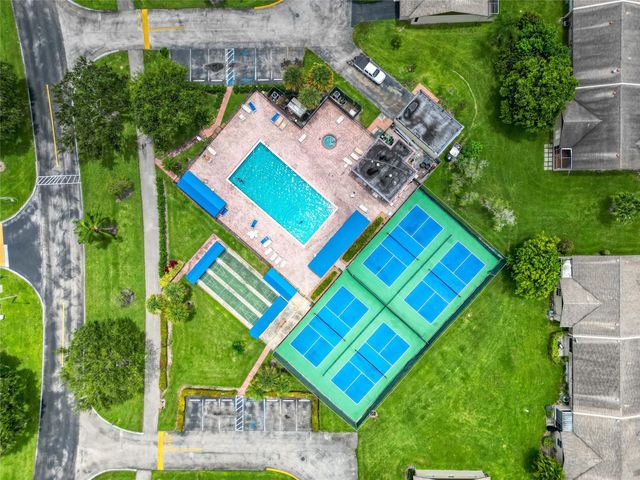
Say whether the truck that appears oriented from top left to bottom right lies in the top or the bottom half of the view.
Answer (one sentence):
The truck that appears oriented from top left to bottom right is in the top half of the image.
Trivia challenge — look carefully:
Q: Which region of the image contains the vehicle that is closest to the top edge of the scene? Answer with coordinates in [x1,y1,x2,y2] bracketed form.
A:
[352,53,386,85]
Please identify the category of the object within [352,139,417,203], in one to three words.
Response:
building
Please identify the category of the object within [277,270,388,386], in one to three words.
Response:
sports court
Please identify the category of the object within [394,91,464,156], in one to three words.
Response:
building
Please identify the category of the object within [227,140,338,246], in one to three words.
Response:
swimming pool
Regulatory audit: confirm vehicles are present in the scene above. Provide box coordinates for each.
[352,53,386,85]
[445,144,462,161]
